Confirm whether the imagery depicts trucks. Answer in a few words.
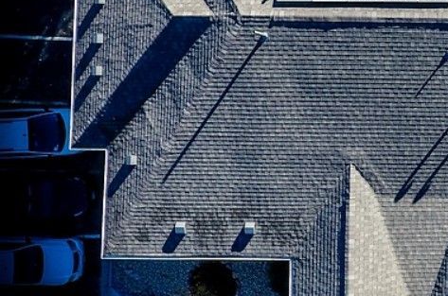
No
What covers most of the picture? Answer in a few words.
buildings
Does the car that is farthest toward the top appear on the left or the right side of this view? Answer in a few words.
left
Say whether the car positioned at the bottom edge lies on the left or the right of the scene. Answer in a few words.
left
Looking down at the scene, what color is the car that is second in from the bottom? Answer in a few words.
black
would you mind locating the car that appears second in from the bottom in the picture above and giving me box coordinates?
[0,174,91,234]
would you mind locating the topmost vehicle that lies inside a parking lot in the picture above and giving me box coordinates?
[0,104,81,164]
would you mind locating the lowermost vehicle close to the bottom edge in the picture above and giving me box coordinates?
[0,233,88,295]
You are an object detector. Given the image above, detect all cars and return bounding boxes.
[0,104,81,164]
[0,233,88,295]
[0,174,91,234]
